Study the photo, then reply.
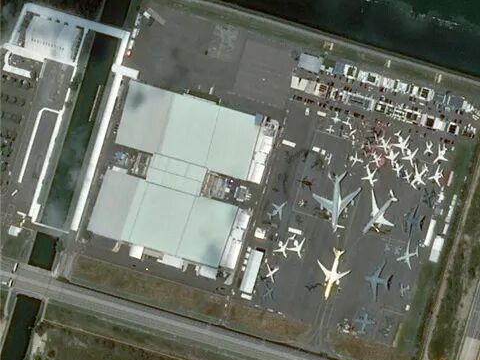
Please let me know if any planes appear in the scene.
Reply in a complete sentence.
Yes, the image includes a plane.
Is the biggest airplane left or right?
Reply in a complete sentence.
The biggest airplane sits on the right side.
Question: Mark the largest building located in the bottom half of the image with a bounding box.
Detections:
[87,170,239,268]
